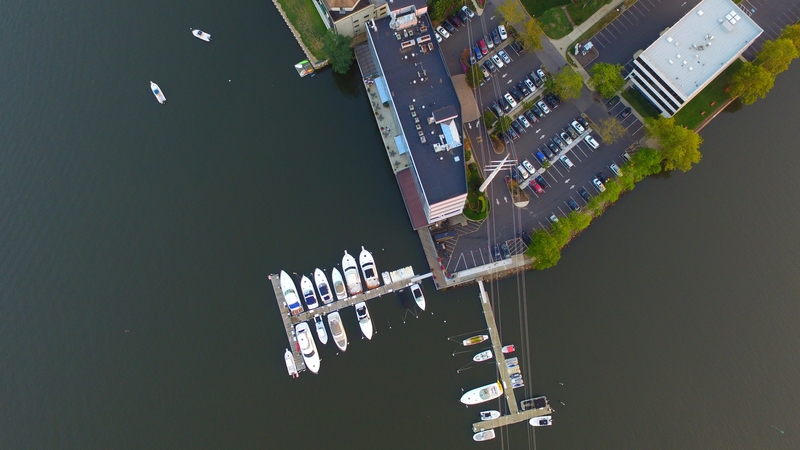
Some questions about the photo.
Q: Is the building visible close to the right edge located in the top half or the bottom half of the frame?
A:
top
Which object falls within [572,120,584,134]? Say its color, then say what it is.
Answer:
white vehicle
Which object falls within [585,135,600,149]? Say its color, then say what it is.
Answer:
white car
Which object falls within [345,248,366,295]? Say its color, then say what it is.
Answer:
white boat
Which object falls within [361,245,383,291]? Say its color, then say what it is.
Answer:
white boat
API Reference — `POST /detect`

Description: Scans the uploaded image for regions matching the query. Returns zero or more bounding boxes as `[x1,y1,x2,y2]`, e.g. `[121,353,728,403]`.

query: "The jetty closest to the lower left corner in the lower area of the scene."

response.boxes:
[269,274,425,371]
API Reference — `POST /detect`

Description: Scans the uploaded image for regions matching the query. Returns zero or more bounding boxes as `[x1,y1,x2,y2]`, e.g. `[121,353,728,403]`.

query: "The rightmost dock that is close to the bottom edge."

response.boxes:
[473,291,553,433]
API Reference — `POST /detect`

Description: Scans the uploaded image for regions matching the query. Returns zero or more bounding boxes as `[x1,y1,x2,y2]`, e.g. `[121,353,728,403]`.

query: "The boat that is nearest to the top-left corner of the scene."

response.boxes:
[150,81,167,104]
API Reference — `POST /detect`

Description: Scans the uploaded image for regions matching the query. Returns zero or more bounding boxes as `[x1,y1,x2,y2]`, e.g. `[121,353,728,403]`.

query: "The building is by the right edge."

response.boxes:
[620,0,763,116]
